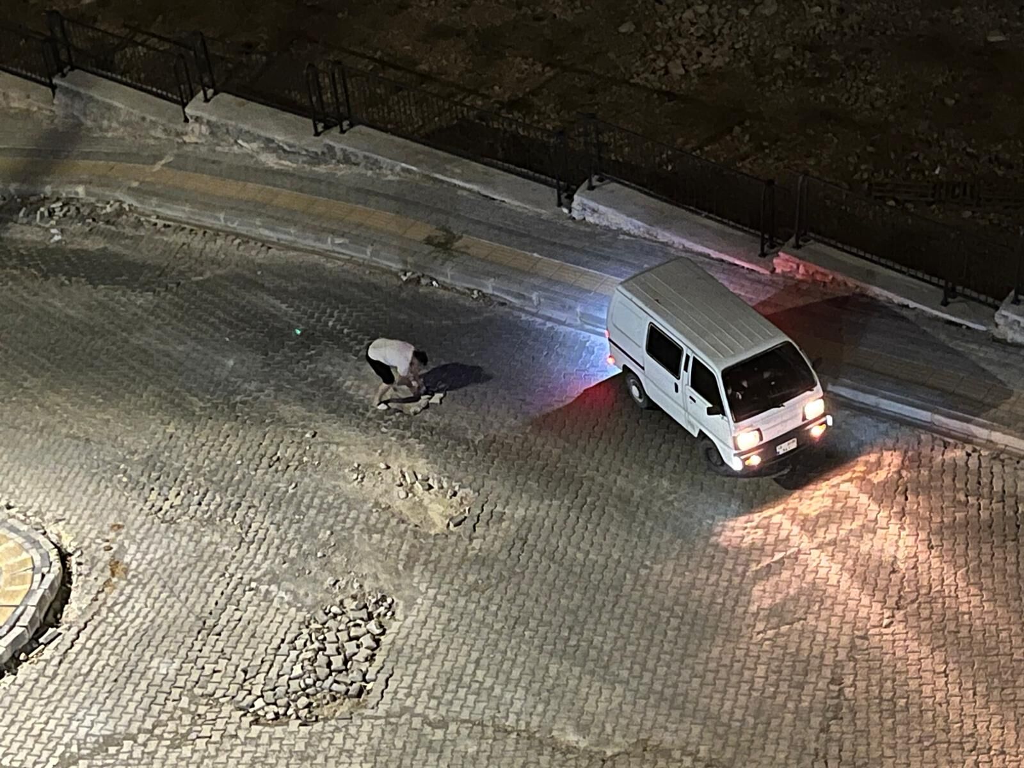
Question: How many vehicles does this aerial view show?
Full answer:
My tally gives 1 vehicle in this photo.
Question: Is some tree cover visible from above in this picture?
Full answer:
No, there is no tree cover in the image.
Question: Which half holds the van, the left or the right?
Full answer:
The van sits on the right side.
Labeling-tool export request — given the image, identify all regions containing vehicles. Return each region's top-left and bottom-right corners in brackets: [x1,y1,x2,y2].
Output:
[612,262,833,473]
